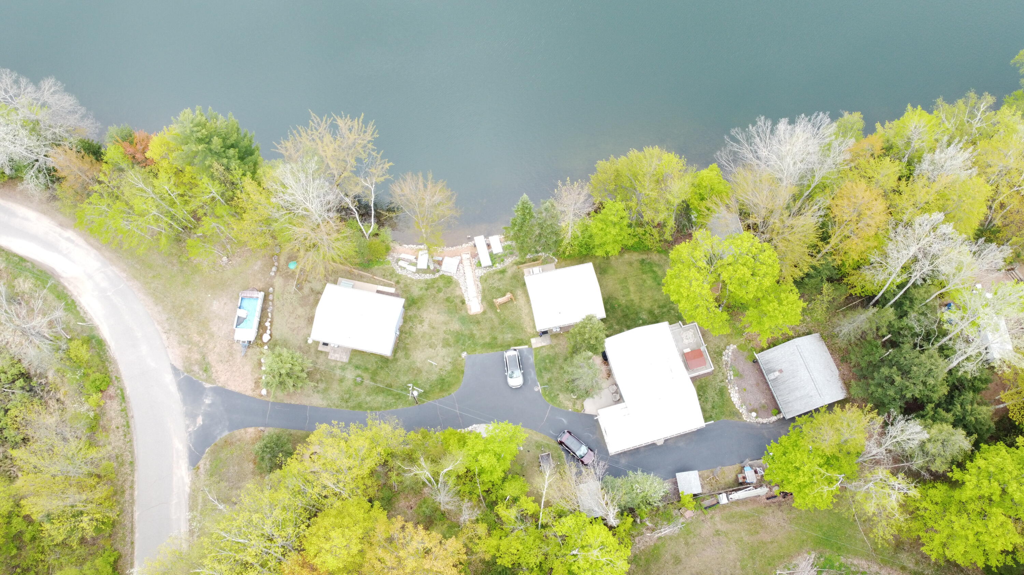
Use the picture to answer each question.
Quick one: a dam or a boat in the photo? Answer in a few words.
boat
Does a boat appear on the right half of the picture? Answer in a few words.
No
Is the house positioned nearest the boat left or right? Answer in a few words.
left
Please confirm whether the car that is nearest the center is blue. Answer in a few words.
No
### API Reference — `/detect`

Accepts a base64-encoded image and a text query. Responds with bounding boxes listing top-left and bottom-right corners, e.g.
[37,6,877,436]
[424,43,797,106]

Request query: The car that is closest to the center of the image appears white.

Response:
[503,348,524,390]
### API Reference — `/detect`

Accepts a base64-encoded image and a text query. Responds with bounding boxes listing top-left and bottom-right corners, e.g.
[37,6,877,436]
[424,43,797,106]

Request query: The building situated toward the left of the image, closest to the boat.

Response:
[308,283,407,359]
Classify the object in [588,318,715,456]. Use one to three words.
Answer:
house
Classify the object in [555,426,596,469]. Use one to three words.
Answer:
car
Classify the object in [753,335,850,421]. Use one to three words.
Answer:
building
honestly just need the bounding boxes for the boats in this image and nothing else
[232,286,264,344]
